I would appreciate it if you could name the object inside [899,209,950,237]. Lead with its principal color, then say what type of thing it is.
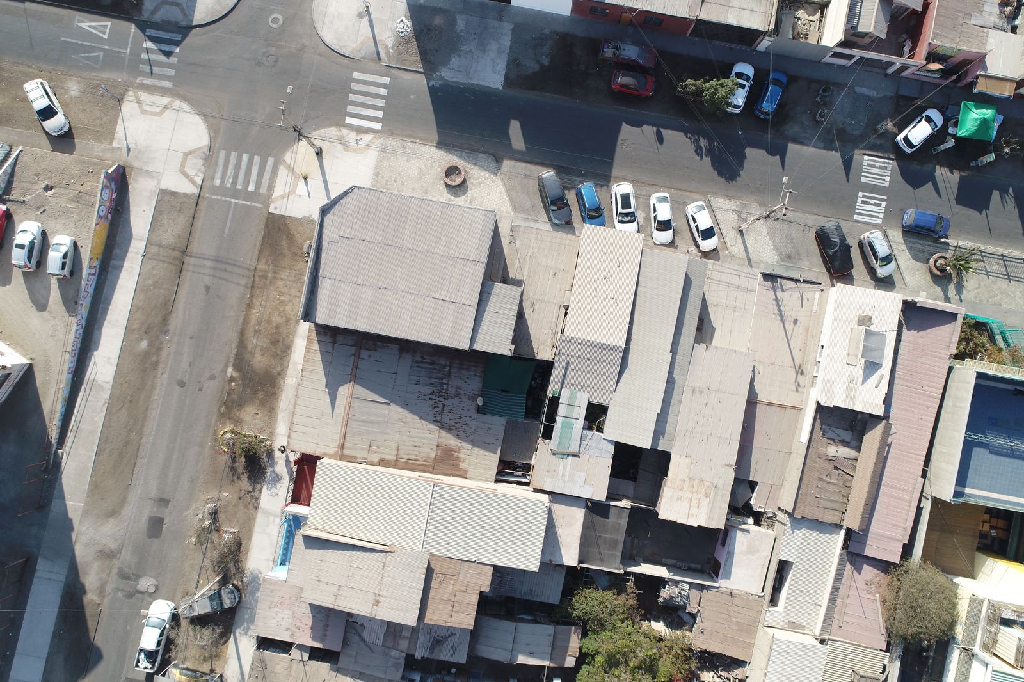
blue car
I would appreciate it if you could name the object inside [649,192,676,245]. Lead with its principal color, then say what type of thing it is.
white car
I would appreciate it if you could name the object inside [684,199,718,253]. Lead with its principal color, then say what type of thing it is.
white car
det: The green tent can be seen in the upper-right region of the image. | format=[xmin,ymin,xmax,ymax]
[941,101,998,151]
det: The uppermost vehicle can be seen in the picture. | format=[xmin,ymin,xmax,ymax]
[599,39,658,71]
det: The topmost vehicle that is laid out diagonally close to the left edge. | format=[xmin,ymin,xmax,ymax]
[21,78,72,137]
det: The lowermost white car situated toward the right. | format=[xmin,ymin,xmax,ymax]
[857,229,894,279]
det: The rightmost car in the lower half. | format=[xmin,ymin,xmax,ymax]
[181,582,241,617]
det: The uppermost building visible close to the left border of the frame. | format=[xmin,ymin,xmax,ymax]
[0,341,32,403]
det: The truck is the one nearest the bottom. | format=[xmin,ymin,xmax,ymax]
[135,600,176,673]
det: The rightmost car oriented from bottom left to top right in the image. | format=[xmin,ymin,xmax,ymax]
[892,108,943,157]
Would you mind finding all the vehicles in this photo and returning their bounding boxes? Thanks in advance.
[181,582,241,617]
[751,69,786,122]
[899,209,950,237]
[608,70,658,99]
[649,192,676,245]
[814,221,852,278]
[536,168,571,226]
[9,221,48,273]
[610,182,639,233]
[857,229,894,279]
[725,61,757,117]
[574,181,606,227]
[599,39,658,71]
[892,108,943,157]
[135,600,176,673]
[21,78,72,137]
[44,235,80,280]
[684,199,718,253]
